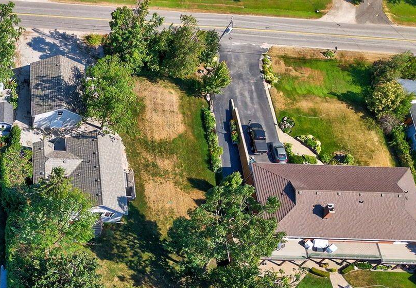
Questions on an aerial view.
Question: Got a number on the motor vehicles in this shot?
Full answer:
The count of motor vehicles comes to 2.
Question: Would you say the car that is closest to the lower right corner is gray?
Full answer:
Yes, the car that is closest to the lower right corner is indeed gray.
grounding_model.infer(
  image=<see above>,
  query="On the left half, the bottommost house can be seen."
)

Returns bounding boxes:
[32,135,137,224]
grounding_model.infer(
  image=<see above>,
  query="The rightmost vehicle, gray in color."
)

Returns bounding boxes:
[268,138,291,164]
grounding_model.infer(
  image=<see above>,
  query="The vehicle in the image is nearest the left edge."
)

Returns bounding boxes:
[244,124,270,163]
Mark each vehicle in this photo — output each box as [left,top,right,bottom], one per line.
[244,124,270,163]
[268,138,291,164]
